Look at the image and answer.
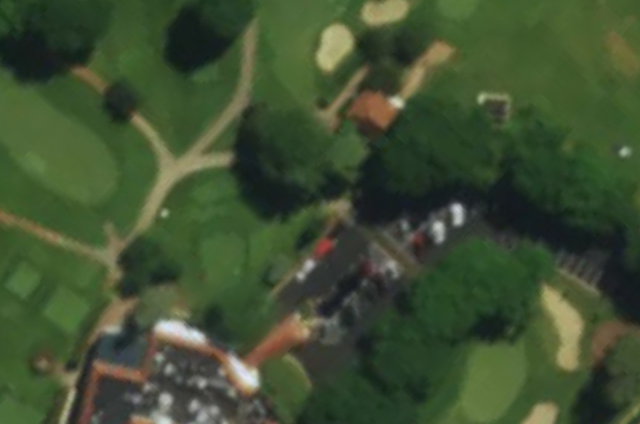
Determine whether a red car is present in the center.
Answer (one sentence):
Yes, a red car shows up in the center.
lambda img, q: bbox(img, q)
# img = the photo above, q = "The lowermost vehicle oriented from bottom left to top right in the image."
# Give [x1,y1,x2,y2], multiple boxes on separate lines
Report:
[297,261,313,279]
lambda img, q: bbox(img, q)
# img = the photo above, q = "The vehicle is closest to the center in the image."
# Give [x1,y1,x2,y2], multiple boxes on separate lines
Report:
[316,239,333,257]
